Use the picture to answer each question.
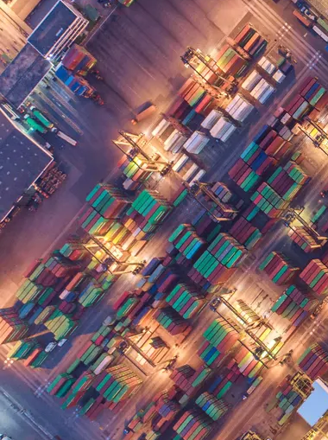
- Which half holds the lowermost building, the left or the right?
left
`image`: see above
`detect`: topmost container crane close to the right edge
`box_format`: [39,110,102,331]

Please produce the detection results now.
[296,119,328,157]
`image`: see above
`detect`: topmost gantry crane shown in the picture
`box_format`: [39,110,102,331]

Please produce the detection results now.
[187,51,244,97]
